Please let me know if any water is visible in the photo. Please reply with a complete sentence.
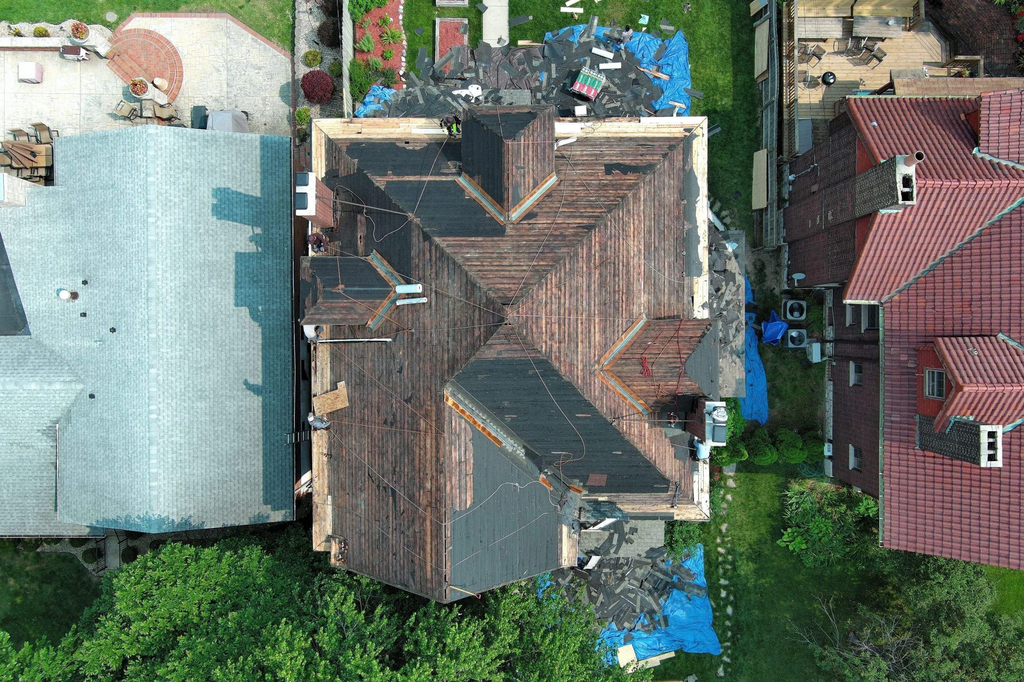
No, the picture contains no water.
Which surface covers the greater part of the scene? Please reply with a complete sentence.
Most of the picture is covered by buildings.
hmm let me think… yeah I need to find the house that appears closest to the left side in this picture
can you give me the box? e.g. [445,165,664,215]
[0,121,302,540]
